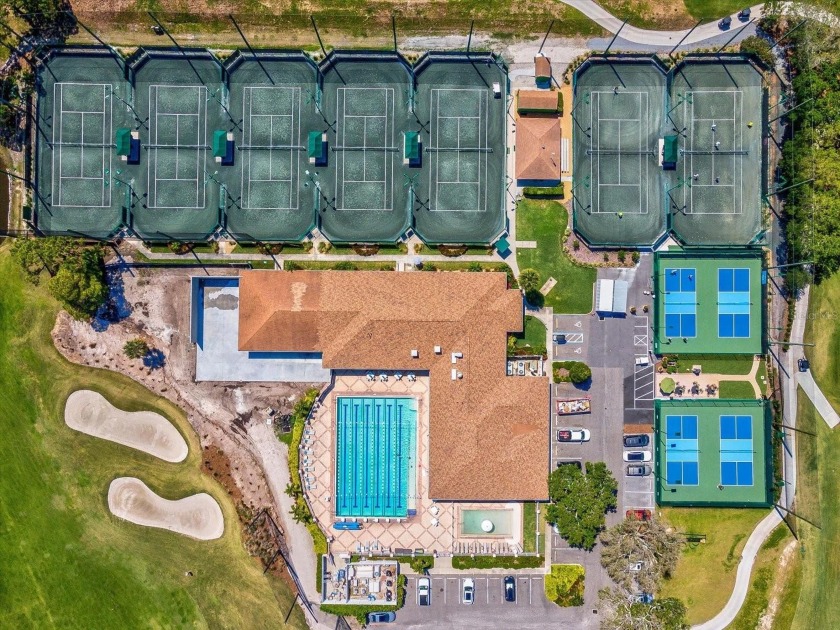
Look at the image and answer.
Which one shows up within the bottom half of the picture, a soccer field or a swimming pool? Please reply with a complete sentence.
There is a swimming pool within the bottom half of the picture.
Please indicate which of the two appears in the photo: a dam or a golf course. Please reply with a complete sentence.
The one in the frame is a golf course.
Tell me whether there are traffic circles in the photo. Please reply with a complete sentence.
No, no traffic circle is visible in the scene.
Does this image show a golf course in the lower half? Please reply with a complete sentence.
Yes, I can see a golf course in the lower half.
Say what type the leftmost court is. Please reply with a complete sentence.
It looks like the leftmost court is a tennis court.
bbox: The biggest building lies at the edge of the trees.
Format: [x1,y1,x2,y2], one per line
[238,271,548,500]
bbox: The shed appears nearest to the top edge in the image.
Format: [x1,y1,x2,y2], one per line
[533,54,551,81]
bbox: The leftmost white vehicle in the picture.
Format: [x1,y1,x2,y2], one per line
[418,576,431,606]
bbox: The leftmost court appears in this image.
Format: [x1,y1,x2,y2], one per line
[43,52,134,238]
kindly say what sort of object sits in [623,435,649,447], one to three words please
vehicle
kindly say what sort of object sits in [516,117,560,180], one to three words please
building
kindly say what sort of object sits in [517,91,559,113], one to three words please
building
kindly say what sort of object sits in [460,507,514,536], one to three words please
swimming pool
